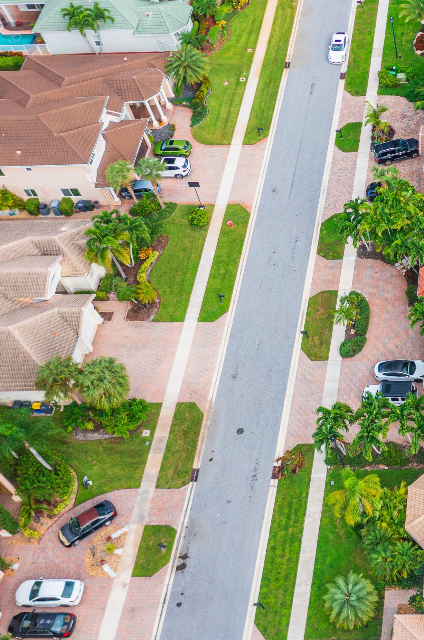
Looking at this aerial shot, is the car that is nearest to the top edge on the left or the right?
right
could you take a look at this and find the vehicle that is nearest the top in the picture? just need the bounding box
[325,32,348,64]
